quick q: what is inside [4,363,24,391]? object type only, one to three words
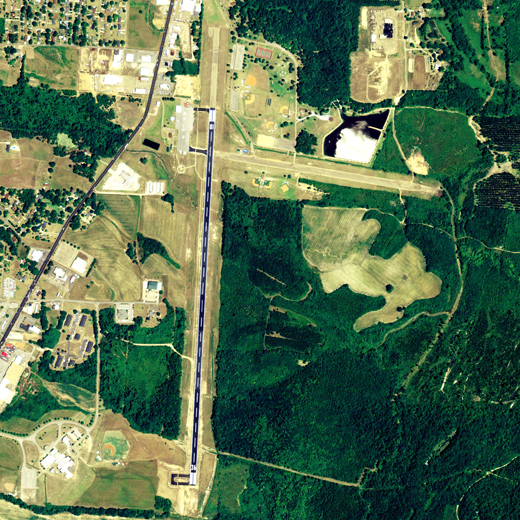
building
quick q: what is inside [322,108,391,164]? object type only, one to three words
pond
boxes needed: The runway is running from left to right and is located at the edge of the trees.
[213,151,441,193]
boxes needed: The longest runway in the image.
[190,108,215,486]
